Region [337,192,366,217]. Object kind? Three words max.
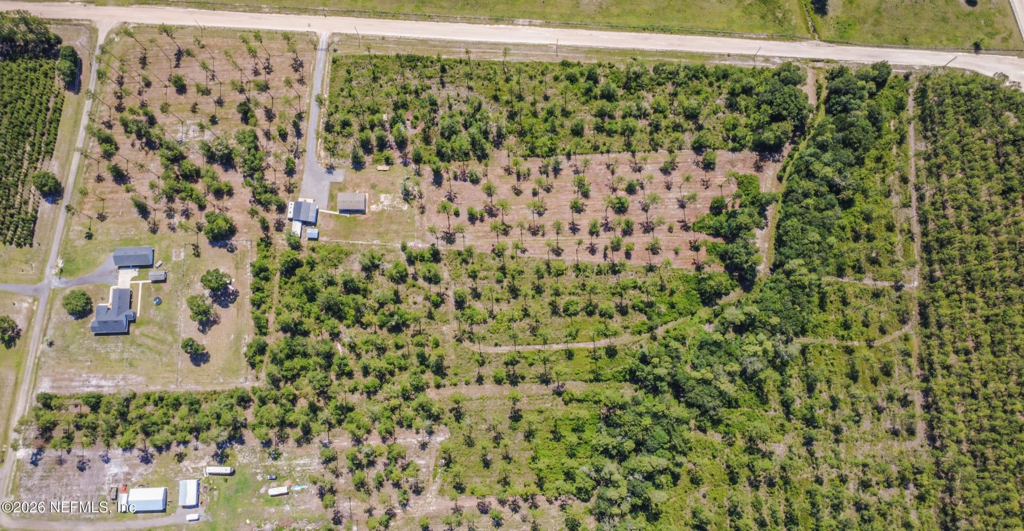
house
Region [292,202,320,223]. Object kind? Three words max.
building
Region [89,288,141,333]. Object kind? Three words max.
house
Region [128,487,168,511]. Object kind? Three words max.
barn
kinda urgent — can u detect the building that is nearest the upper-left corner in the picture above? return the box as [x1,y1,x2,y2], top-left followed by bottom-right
[113,246,156,267]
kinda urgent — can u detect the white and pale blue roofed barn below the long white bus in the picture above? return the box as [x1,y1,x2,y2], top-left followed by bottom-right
[179,479,201,505]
